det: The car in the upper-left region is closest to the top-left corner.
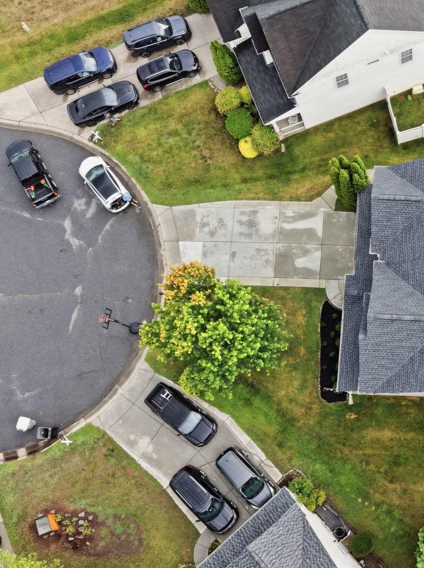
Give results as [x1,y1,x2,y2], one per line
[46,49,117,95]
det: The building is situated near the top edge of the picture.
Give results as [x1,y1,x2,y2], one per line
[206,0,424,140]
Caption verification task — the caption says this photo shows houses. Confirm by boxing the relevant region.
[336,157,424,398]
[206,0,424,140]
[198,485,360,568]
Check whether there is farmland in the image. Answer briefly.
No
